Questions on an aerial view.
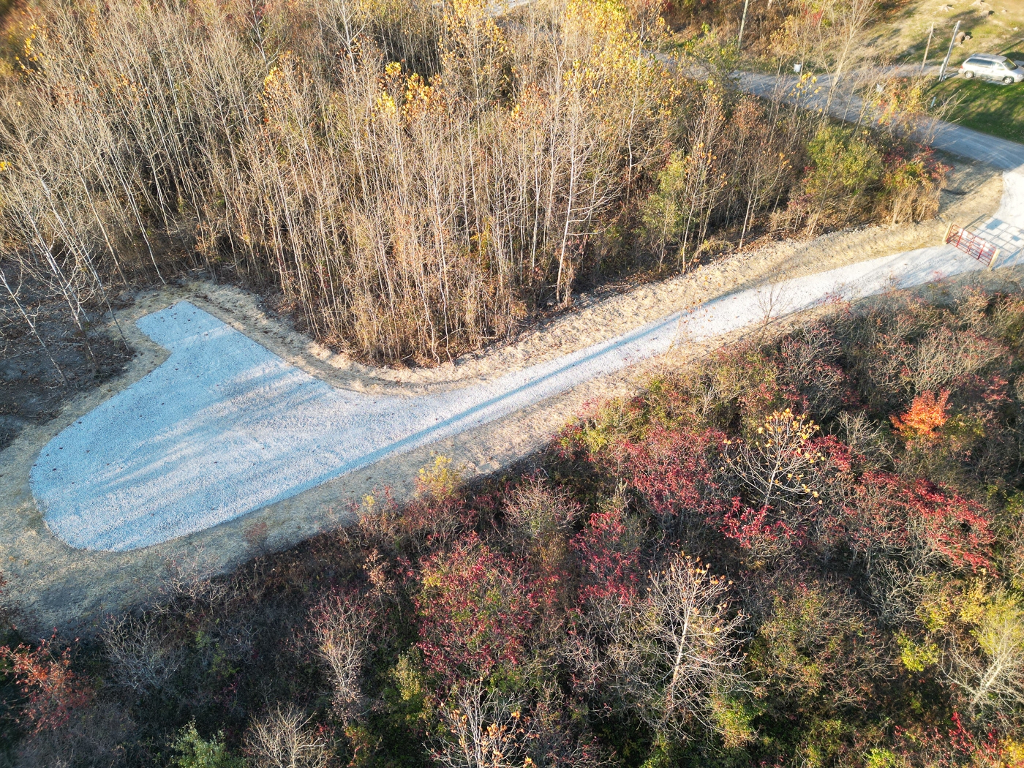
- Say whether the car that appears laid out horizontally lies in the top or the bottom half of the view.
top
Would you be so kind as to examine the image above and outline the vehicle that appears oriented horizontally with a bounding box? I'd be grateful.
[959,44,1024,80]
